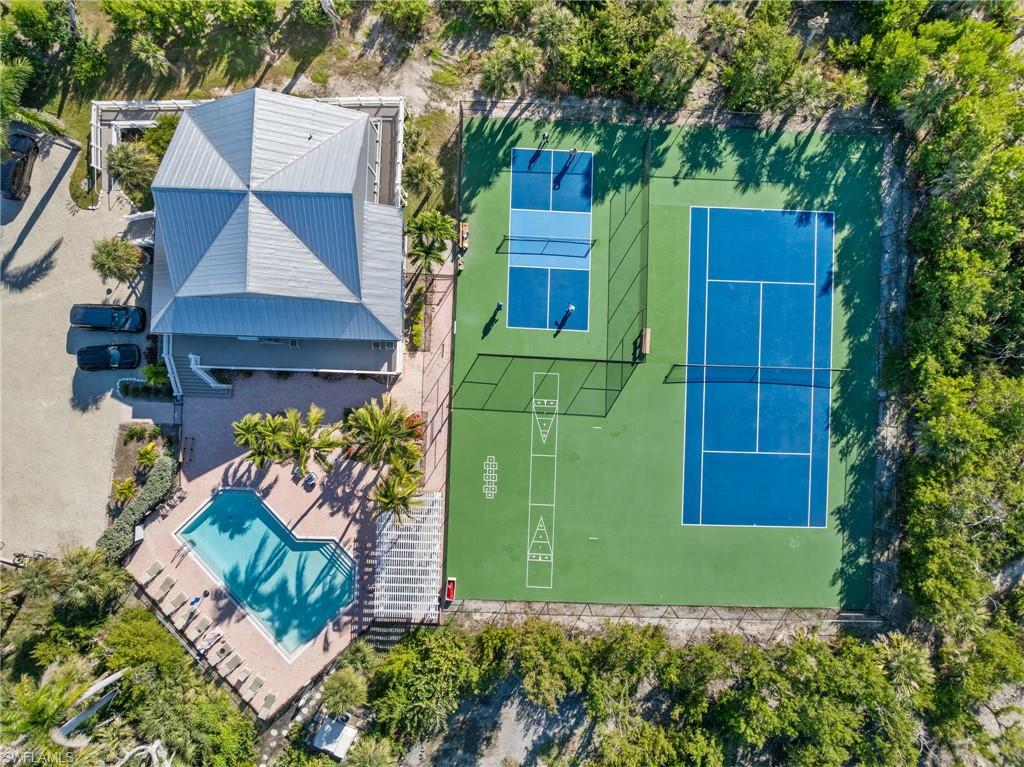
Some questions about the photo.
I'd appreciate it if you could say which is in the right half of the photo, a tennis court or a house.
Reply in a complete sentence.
What appears in the right half of the photo is a tennis court.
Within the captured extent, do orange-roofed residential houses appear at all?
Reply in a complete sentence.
No, no orange-roofed residential house can be seen from above.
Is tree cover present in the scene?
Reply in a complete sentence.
Yes, there's tree cover in this view.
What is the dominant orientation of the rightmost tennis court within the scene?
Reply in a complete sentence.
What the image shows is the rightmost tennis court lying up and down.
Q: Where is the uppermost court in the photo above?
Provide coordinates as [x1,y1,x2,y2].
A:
[507,148,593,331]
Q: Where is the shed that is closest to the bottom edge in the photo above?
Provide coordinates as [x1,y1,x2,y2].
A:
[314,707,362,759]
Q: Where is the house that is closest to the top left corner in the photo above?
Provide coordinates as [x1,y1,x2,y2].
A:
[123,86,405,399]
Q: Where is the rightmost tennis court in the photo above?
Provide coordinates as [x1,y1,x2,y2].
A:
[682,206,834,528]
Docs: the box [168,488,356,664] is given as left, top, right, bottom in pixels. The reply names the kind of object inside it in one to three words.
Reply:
swimming pool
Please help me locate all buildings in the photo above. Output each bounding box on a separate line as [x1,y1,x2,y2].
[314,707,362,759]
[123,86,405,399]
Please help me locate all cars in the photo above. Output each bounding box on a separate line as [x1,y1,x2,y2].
[68,301,150,336]
[0,133,47,203]
[77,341,146,374]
